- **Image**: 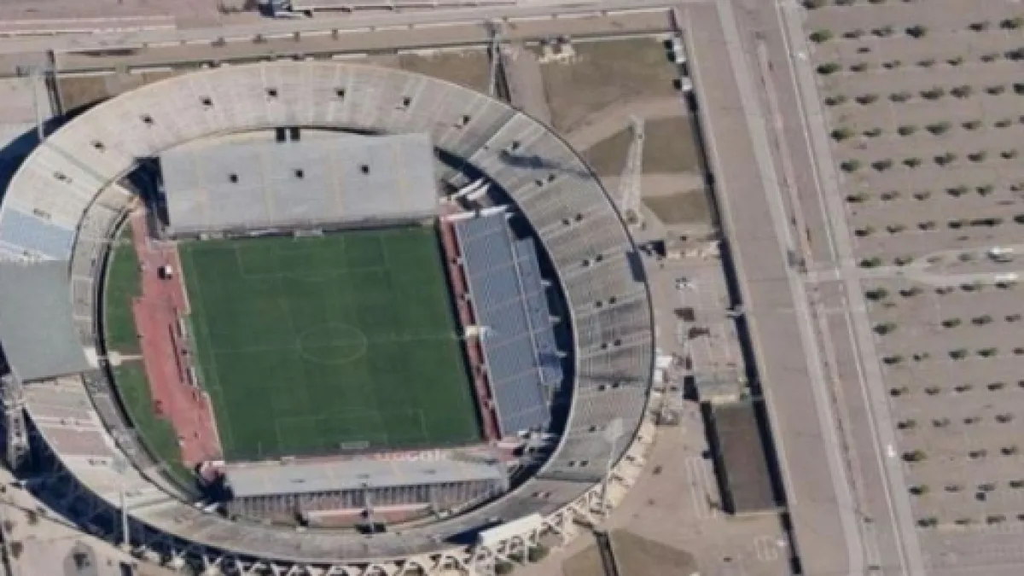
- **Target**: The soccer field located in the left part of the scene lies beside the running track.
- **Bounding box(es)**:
[179,226,489,461]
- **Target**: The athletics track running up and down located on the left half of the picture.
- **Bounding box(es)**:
[131,210,223,477]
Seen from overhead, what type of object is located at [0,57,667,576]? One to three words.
stadium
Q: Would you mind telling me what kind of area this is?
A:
sports ground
